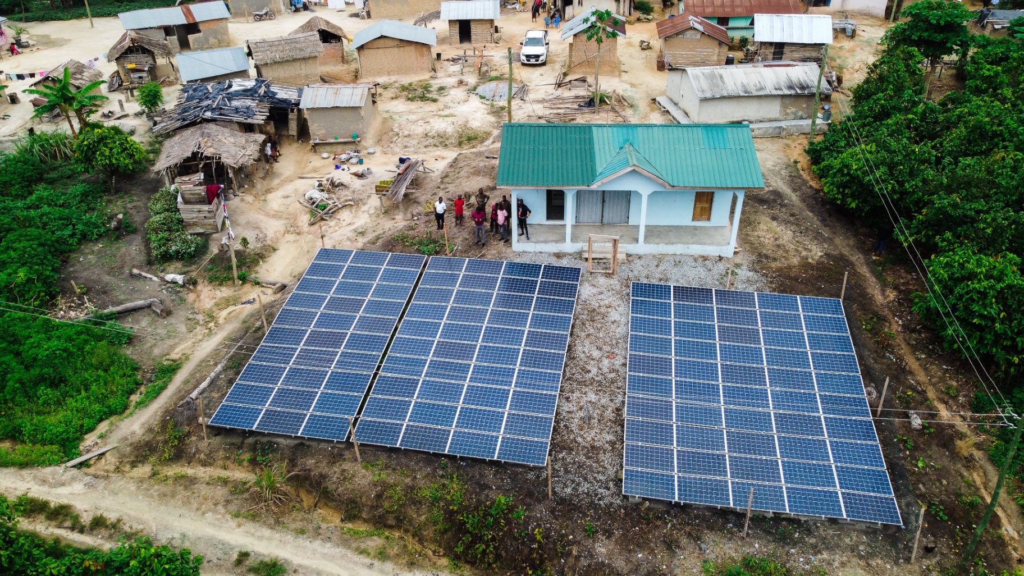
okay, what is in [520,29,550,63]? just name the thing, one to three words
truck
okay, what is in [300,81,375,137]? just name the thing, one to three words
shed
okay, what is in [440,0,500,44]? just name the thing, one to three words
shed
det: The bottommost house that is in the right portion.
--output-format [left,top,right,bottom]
[495,123,764,261]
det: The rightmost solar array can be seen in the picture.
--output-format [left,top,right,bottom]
[622,283,903,532]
